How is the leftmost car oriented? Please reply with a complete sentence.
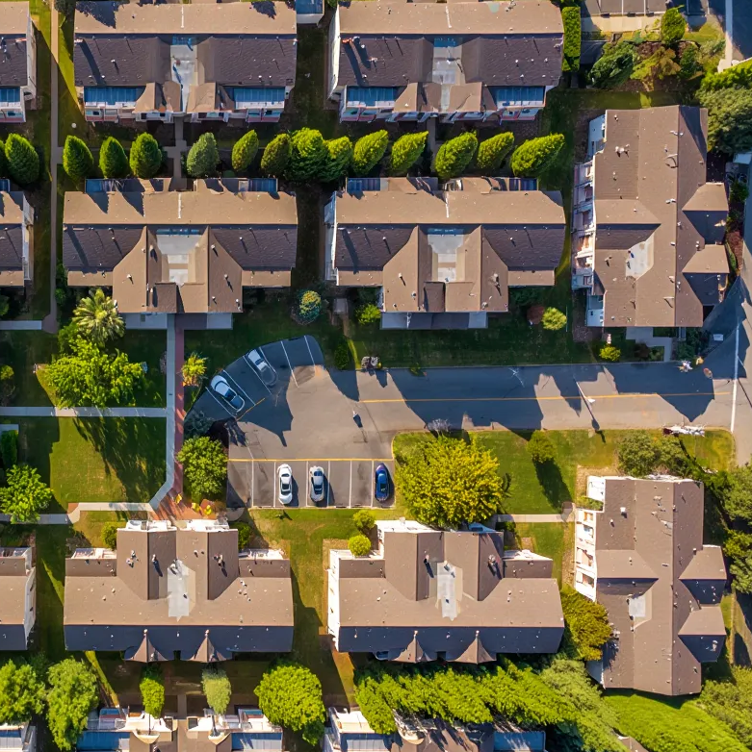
The leftmost car has been laid out at an angle relative to the frame.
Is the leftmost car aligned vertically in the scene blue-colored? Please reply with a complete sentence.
No, the leftmost car aligned vertically is white.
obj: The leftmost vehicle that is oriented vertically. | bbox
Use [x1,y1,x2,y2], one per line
[275,463,294,504]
